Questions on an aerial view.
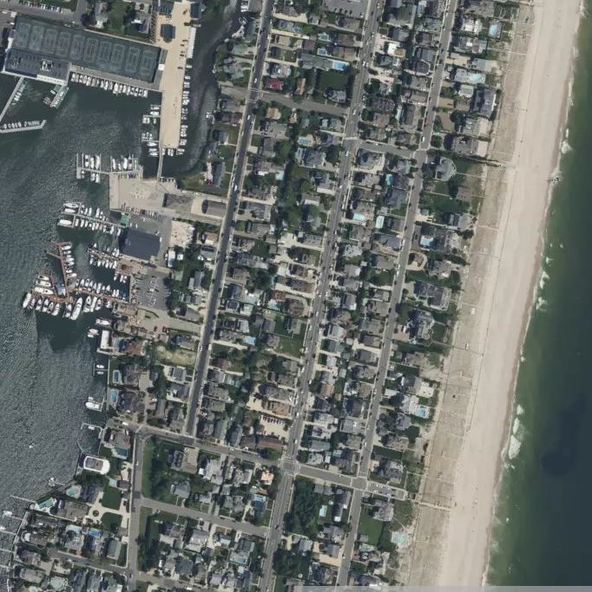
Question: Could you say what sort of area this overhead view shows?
residential area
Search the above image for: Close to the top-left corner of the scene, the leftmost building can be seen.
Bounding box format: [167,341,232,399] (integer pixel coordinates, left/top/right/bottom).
[2,44,70,84]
